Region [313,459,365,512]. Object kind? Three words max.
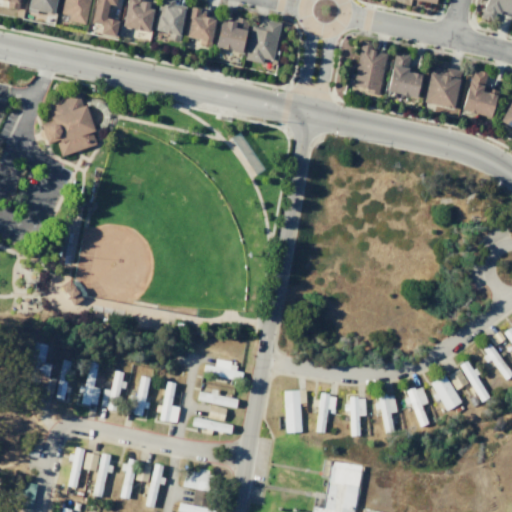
building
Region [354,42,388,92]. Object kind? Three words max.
house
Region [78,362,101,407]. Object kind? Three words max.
house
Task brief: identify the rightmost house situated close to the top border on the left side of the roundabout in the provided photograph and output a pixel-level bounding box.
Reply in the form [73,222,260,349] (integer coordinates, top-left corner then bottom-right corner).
[248,18,284,62]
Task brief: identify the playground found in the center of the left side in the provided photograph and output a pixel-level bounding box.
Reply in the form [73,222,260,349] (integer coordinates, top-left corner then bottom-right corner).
[14,258,42,314]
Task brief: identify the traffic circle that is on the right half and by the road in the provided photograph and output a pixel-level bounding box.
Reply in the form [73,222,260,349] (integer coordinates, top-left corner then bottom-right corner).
[296,0,364,44]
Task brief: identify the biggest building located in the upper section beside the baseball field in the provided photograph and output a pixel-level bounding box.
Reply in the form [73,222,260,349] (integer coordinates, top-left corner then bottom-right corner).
[44,96,100,159]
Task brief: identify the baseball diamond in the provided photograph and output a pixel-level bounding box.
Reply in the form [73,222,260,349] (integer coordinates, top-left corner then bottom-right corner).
[79,130,246,316]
